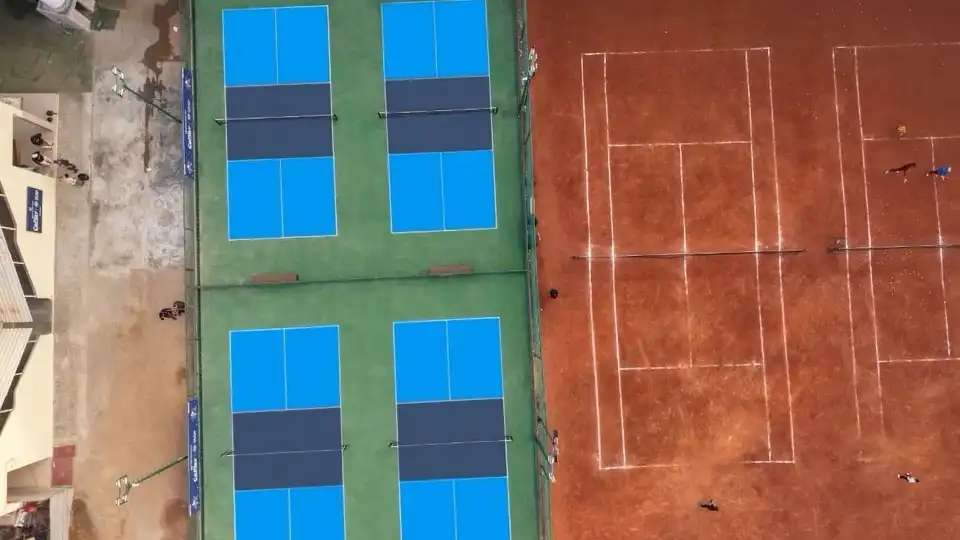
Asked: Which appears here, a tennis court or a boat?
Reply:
tennis court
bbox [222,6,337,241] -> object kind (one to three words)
sports court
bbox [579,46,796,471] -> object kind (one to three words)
tennis court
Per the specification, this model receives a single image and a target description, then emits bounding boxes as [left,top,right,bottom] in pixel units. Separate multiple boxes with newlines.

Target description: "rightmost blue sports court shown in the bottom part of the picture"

[392,318,511,540]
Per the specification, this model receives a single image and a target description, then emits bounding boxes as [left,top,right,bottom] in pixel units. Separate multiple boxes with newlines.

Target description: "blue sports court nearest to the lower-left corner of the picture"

[230,326,346,540]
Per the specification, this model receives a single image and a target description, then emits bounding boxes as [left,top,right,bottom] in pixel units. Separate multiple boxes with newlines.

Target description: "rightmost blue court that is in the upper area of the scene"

[382,0,498,233]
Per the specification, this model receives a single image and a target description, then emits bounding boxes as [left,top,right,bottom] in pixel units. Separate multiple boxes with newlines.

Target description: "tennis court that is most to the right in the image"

[831,41,960,461]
